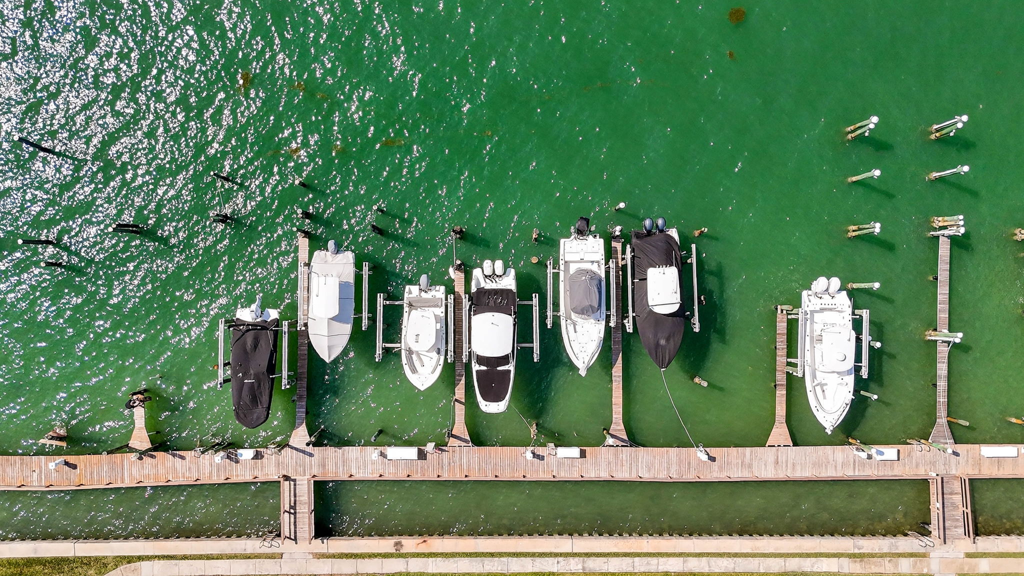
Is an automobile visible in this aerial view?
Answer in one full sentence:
No, I can see no automobile in this picture.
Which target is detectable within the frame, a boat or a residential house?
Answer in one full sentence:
I can see a boat in this picture.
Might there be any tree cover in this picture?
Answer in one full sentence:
No, the scene doesn't show any tree cover.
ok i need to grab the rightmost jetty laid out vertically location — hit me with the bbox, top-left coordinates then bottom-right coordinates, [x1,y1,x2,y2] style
[927,236,954,445]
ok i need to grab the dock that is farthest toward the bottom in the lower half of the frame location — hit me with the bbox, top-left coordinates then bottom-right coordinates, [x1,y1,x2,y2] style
[0,442,1024,490]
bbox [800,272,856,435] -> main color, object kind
white boat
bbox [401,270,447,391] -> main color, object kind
white boat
